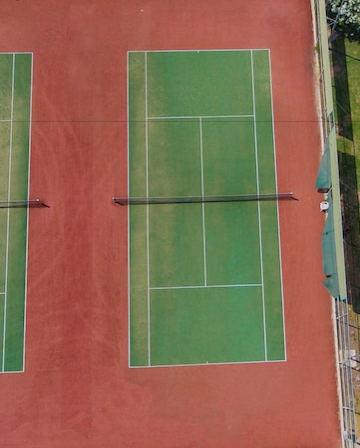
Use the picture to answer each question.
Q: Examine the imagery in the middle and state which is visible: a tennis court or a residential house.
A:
tennis court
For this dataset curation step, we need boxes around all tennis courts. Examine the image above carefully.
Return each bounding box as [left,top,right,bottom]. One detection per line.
[0,53,42,372]
[113,49,292,367]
